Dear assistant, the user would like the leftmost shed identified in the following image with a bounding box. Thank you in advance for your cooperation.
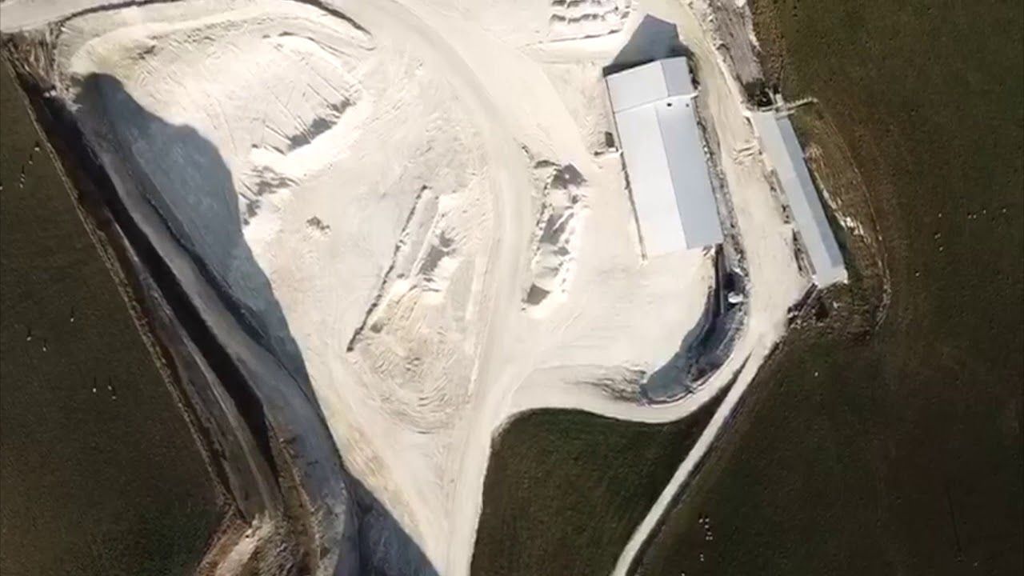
[605,56,723,259]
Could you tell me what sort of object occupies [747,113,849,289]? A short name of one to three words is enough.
shed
